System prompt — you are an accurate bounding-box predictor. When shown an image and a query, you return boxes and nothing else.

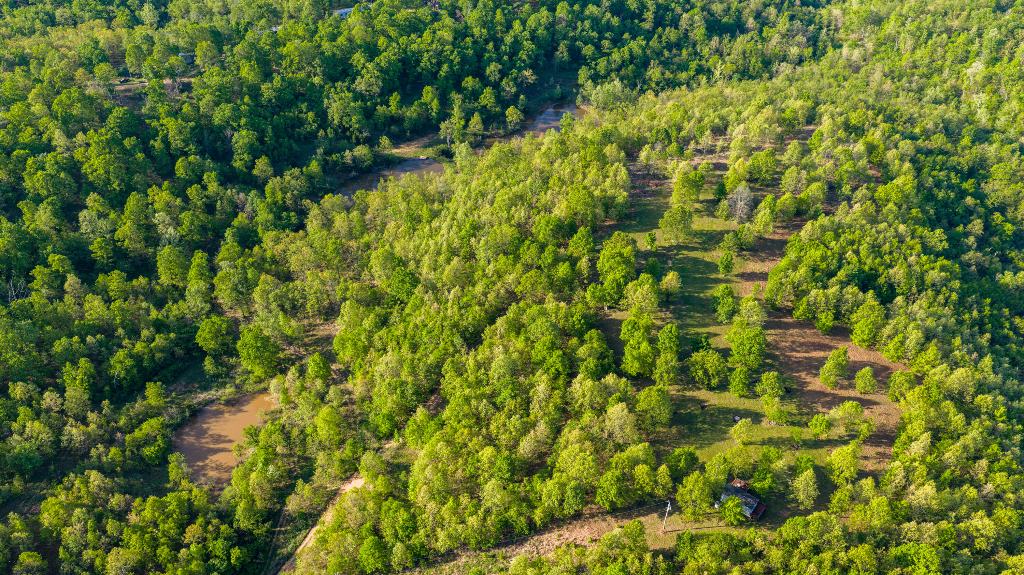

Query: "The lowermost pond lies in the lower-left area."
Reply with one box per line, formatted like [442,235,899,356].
[173,393,278,502]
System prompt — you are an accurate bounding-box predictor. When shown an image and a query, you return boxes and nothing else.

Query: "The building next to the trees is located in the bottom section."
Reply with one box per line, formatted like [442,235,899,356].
[721,478,769,522]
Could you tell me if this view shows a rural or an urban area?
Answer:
rural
